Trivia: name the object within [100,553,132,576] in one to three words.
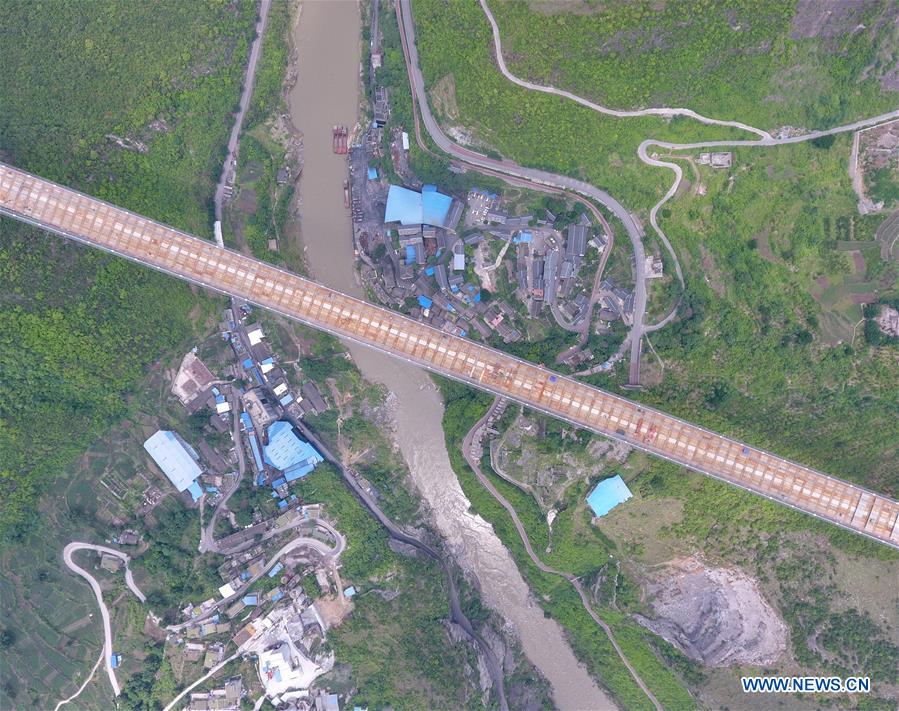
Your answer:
house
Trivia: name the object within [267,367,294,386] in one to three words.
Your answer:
house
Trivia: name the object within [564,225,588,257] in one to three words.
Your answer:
building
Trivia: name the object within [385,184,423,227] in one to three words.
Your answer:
building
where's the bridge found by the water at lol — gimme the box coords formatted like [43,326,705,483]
[0,164,899,552]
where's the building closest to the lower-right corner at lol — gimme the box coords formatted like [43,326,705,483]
[583,473,633,518]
